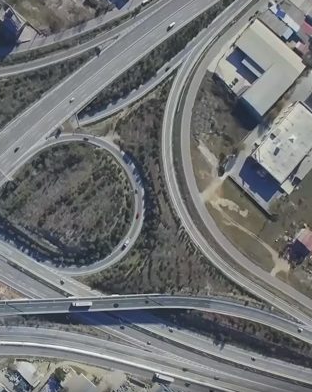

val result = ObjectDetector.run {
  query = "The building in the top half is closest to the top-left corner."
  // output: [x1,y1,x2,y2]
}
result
[0,8,22,34]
